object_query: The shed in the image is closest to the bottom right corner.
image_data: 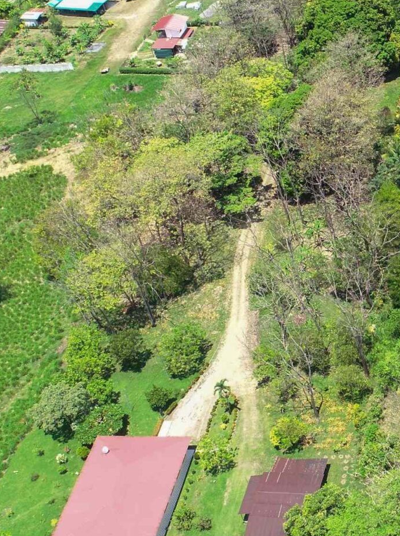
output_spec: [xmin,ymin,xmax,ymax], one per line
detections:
[238,457,328,536]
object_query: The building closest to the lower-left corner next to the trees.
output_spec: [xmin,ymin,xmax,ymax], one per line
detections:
[53,436,199,536]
